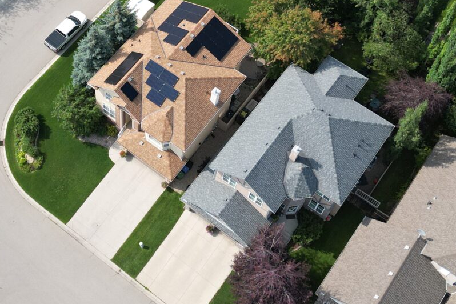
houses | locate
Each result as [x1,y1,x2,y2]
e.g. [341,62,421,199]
[88,0,252,185]
[181,56,395,249]
[315,135,456,304]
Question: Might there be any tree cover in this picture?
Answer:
Yes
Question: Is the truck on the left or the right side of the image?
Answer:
left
